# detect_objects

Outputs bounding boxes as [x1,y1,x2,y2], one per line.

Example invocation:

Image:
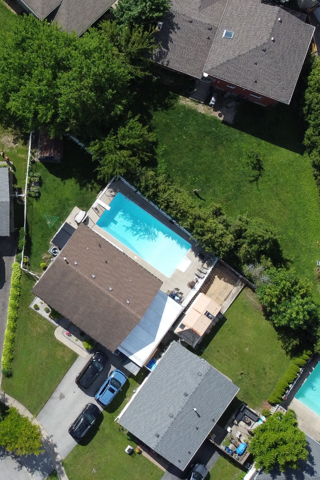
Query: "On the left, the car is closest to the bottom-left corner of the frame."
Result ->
[68,401,101,444]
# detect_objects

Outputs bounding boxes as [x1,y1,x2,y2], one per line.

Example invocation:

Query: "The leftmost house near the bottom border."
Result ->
[116,340,240,471]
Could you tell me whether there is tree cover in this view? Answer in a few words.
Yes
